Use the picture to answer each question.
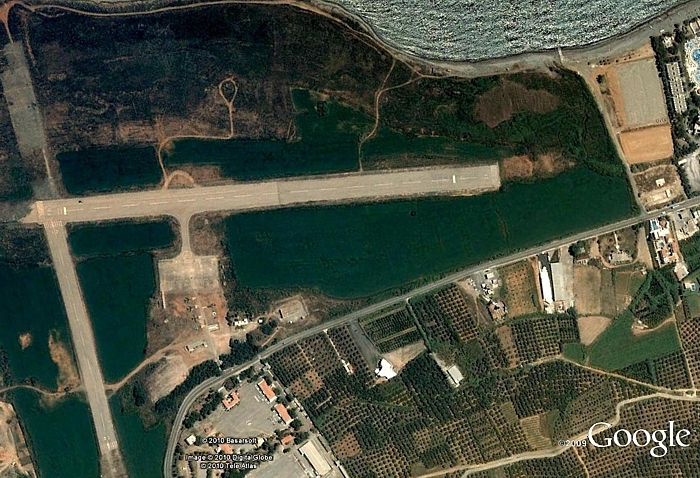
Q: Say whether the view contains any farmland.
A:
Yes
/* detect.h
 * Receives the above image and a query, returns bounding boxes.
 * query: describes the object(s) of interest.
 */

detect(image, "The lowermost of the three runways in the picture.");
[44,220,126,478]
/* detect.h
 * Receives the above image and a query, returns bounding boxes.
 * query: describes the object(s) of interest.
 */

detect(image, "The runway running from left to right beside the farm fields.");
[21,161,500,224]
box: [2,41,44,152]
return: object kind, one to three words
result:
runway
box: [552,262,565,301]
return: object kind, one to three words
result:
shed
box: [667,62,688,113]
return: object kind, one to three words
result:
building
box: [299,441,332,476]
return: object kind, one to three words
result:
building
